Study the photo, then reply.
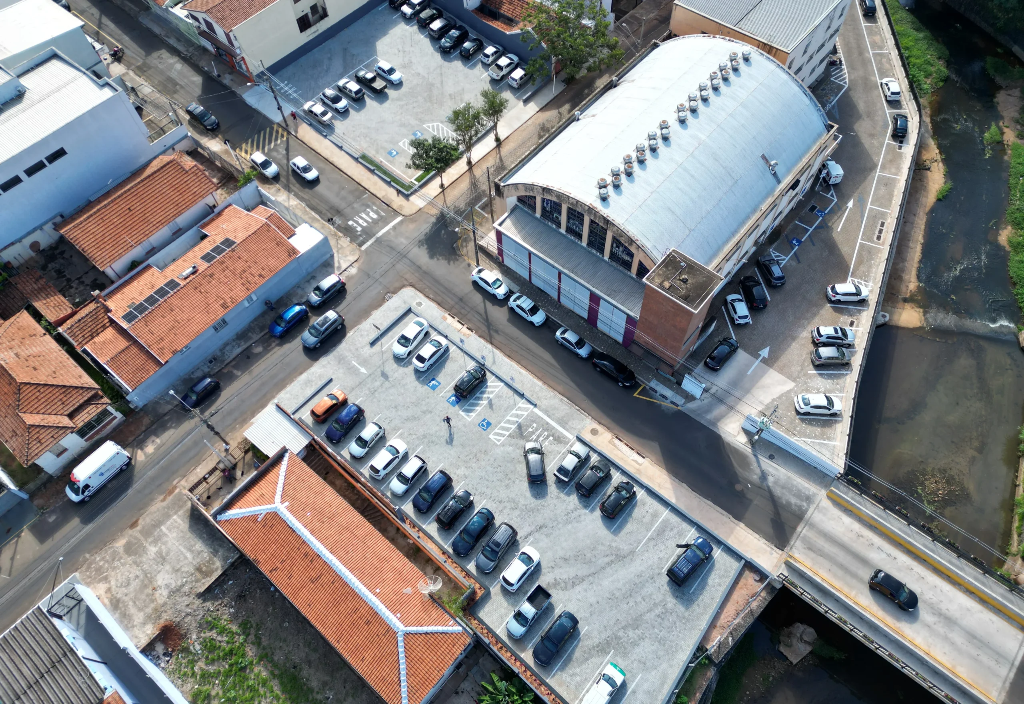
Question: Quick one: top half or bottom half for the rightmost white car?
top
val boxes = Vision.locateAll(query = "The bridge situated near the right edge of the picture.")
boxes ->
[779,476,1024,704]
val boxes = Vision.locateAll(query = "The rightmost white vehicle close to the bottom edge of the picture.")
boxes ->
[581,664,627,704]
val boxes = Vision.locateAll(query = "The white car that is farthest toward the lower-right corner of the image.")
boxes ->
[792,394,843,417]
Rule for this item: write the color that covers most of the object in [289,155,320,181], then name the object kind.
white car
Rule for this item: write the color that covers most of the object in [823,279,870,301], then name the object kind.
white car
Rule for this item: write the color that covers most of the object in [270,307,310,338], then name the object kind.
blue car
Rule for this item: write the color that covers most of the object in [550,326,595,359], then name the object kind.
blue car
